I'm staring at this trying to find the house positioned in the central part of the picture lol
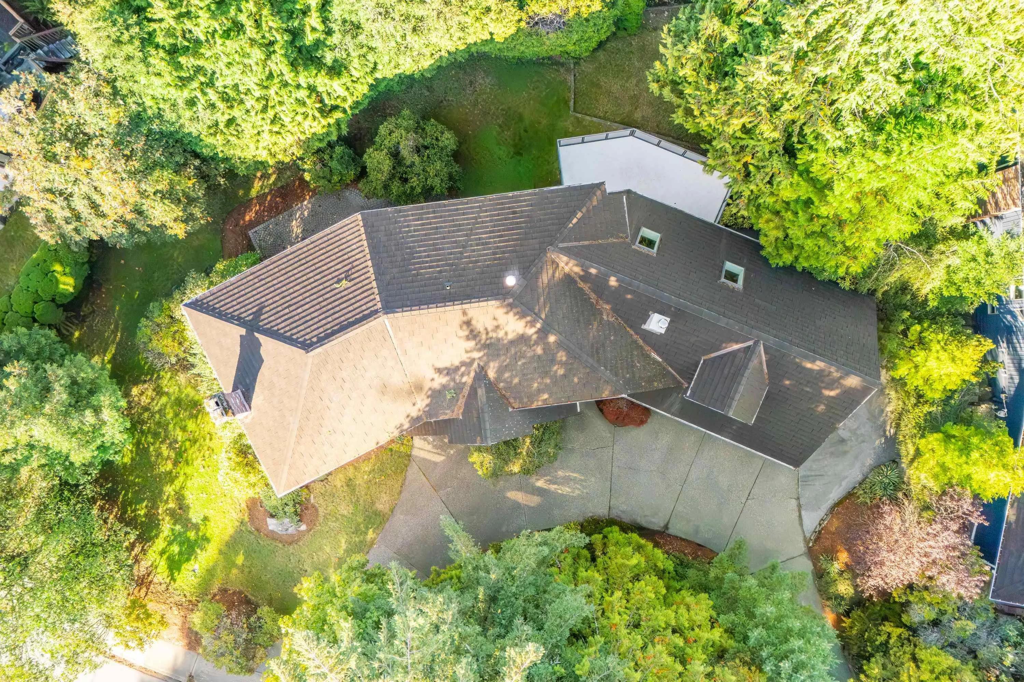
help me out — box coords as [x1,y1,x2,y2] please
[179,180,879,499]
